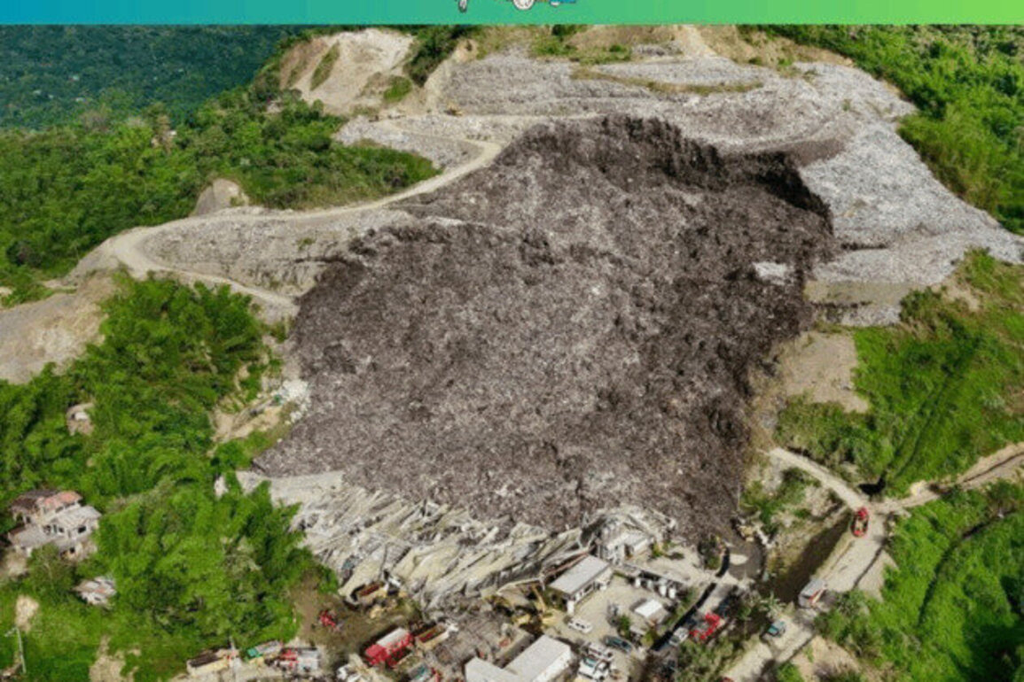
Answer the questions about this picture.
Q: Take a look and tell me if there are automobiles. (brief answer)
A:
Yes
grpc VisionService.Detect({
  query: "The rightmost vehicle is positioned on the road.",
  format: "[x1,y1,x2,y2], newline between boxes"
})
[851,498,873,535]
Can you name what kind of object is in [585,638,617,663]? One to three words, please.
car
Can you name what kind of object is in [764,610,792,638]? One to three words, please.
truck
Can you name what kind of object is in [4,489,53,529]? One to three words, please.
house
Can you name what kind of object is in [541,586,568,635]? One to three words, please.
work vehicle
